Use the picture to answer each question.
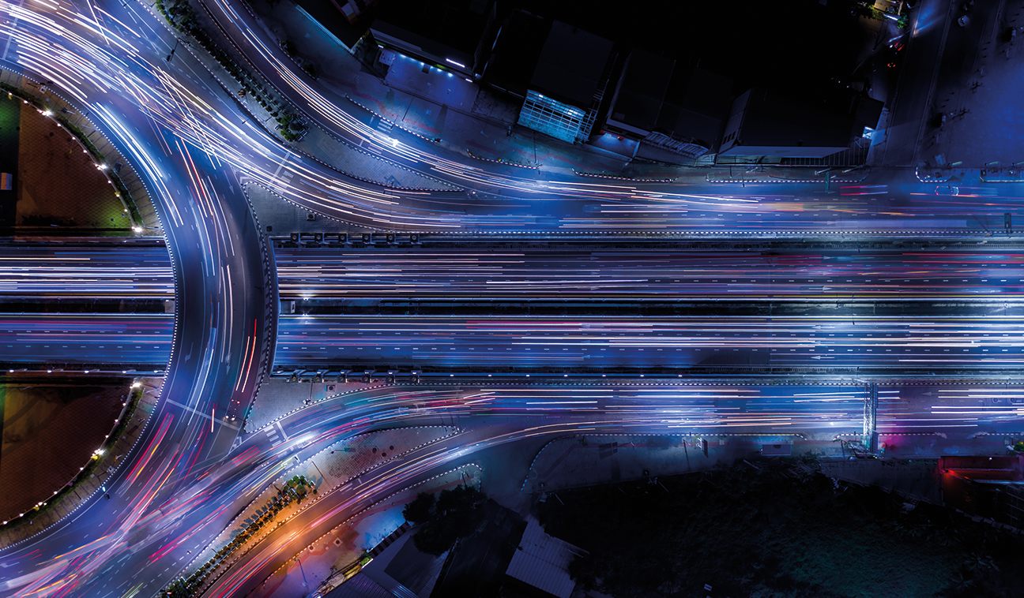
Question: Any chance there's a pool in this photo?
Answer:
No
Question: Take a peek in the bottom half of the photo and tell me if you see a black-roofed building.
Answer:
Yes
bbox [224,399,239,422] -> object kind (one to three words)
car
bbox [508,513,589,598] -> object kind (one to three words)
shed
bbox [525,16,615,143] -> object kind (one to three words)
building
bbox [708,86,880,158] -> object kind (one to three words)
building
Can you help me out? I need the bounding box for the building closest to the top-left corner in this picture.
[294,0,378,65]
